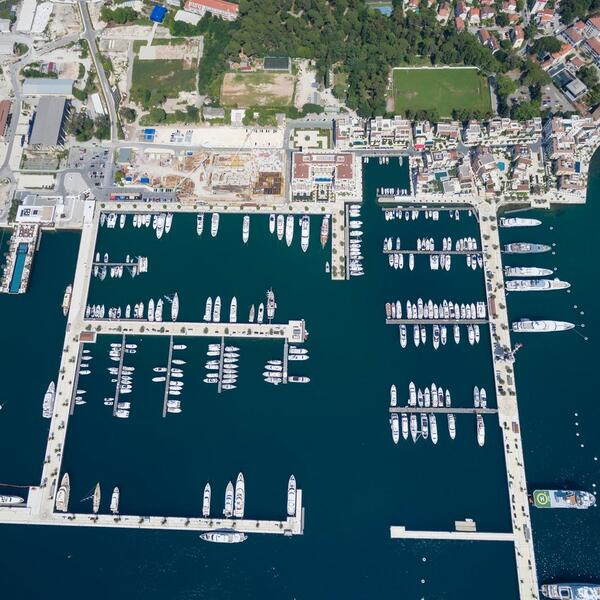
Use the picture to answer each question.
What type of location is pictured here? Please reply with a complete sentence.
The area seen from above is a port.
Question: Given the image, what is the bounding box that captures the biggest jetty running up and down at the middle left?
[27,211,98,513]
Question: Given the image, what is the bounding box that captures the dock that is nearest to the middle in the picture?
[288,320,305,343]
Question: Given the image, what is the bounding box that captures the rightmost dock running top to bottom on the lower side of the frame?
[479,215,540,600]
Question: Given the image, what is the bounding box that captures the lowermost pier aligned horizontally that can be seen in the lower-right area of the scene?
[390,526,514,540]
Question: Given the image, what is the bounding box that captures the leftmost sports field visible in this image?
[221,73,294,105]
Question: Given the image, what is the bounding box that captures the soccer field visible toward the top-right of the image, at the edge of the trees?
[391,69,493,115]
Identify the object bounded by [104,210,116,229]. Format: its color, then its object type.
white boat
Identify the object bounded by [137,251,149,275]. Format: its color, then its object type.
white boat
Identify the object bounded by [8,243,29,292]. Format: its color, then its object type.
blue swimming pool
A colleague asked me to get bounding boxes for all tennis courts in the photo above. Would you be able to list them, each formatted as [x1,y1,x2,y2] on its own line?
[263,57,290,70]
[369,1,395,16]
